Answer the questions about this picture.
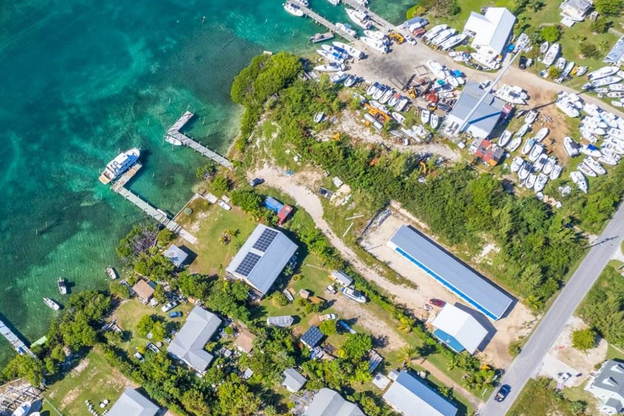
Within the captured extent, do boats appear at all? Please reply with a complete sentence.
Yes, there's a boat here.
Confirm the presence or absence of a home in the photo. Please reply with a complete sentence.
Yes, the frame does contain a home.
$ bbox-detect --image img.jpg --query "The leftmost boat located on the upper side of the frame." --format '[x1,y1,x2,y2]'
[102,147,141,184]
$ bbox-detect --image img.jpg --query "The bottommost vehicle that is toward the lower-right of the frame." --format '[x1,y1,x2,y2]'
[492,385,510,404]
